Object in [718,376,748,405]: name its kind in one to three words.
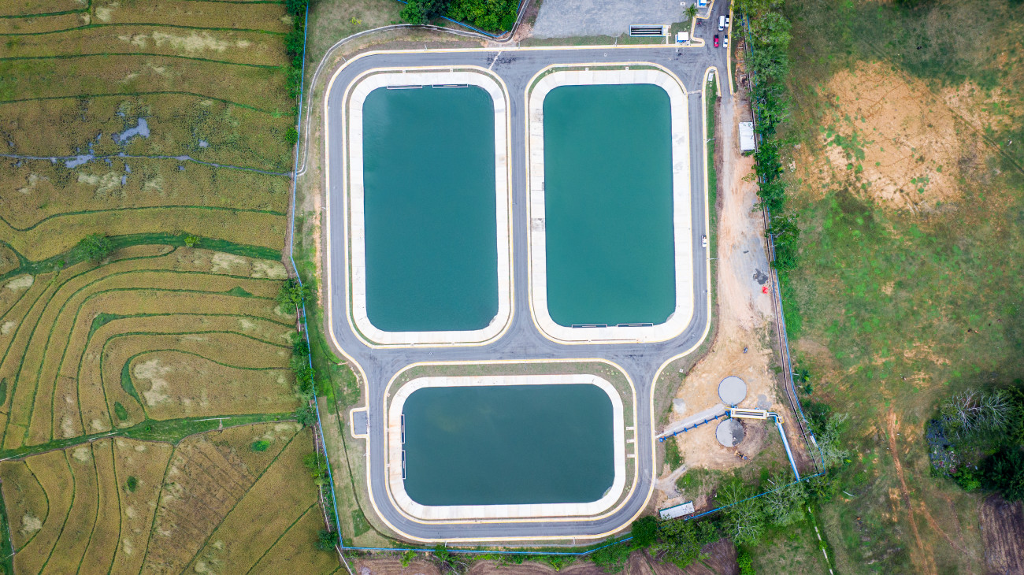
storage tank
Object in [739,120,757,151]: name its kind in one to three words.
shed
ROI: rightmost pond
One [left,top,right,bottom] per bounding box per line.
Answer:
[530,70,690,341]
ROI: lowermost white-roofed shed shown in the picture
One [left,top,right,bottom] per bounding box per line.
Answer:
[659,502,695,523]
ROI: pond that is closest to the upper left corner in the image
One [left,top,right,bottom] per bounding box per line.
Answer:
[350,72,510,344]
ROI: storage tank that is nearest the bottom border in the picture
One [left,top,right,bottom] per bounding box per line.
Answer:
[715,418,746,447]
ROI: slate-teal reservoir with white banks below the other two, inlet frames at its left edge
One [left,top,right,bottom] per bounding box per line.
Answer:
[389,374,625,519]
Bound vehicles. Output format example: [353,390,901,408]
[702,235,708,248]
[725,14,730,28]
[719,16,725,30]
[723,34,729,48]
[714,34,720,47]
[734,447,750,460]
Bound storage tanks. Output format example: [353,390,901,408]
[715,418,746,447]
[718,376,748,405]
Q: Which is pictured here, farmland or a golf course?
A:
farmland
